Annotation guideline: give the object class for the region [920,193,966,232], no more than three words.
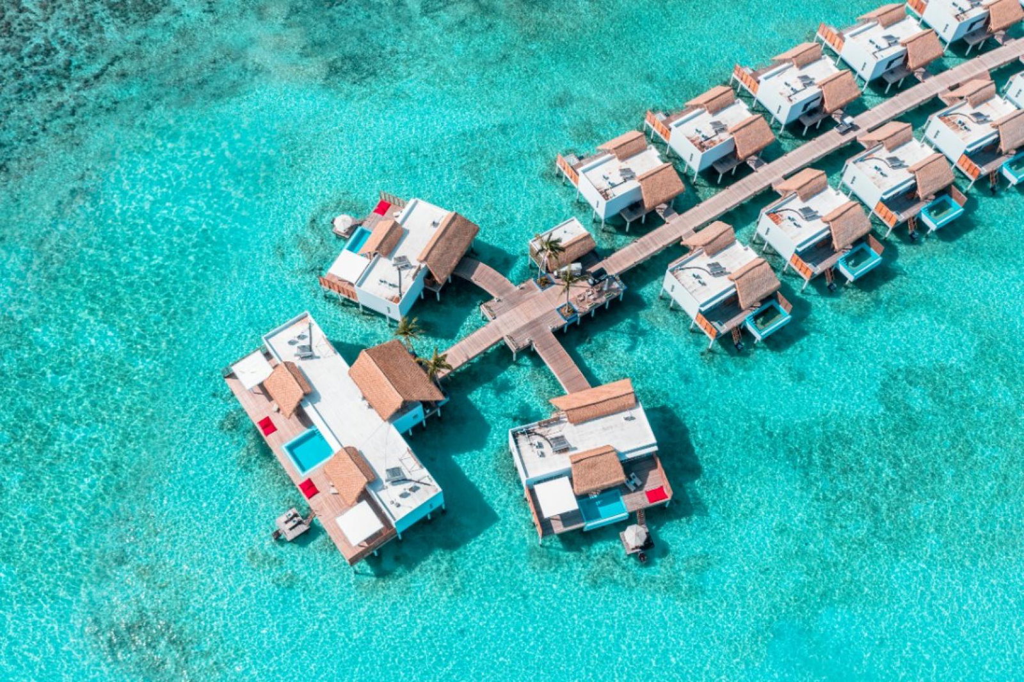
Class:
swimming pool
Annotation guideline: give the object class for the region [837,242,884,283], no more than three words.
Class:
swimming pool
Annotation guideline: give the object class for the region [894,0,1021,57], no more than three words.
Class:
house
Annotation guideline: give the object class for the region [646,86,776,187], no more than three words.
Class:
house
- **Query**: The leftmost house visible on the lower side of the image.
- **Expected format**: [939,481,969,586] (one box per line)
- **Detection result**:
[220,311,452,573]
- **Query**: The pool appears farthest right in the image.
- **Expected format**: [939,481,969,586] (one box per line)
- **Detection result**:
[1001,150,1024,185]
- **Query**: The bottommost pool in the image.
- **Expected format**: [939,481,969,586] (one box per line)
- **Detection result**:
[577,489,629,531]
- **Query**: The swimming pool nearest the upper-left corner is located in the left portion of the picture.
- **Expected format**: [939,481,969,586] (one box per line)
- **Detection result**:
[339,226,373,257]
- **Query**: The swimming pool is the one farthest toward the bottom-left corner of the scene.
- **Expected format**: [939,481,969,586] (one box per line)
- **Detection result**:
[282,426,336,476]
